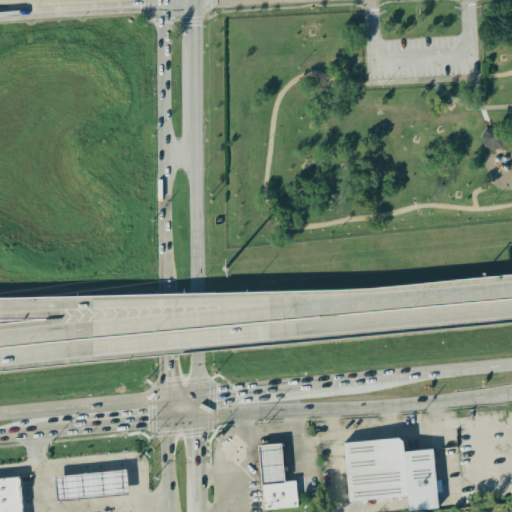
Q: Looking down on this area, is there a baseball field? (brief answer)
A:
No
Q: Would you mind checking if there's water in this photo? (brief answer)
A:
No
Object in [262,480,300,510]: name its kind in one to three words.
building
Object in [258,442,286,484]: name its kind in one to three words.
building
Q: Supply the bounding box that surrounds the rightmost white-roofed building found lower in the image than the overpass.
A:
[406,448,444,512]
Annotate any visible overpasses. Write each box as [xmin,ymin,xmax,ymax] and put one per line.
[0,274,512,372]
